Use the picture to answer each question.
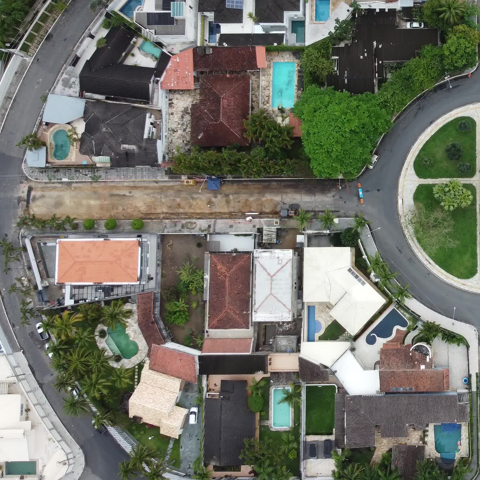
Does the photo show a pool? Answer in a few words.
Yes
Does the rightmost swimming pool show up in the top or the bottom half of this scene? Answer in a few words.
bottom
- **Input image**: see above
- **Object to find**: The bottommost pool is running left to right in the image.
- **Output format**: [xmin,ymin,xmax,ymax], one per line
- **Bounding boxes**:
[3,460,37,476]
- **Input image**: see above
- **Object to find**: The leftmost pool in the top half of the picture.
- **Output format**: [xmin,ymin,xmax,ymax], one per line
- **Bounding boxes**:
[50,127,72,161]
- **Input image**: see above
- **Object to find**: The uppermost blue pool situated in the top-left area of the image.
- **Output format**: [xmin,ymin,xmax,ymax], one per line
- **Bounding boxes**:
[117,0,145,19]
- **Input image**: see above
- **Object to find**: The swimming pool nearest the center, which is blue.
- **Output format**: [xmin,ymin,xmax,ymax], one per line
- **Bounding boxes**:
[307,305,323,340]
